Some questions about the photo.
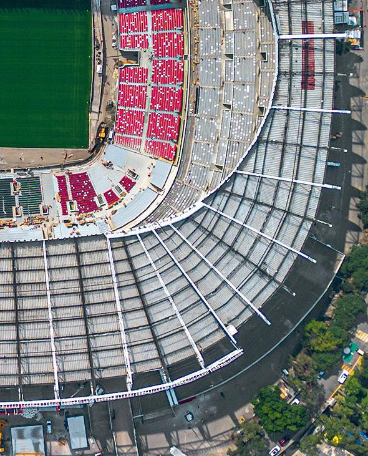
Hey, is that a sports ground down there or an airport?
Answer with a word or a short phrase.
sports ground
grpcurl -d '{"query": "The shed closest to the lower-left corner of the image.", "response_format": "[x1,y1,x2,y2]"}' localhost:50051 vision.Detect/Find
[10,421,44,456]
